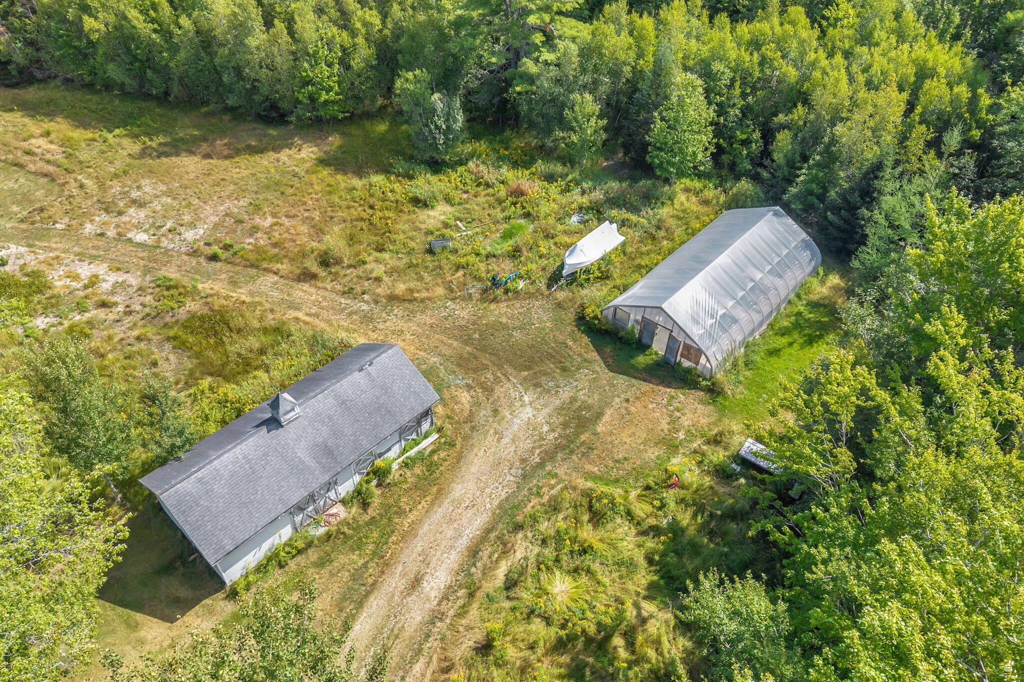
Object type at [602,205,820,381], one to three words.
greenhouse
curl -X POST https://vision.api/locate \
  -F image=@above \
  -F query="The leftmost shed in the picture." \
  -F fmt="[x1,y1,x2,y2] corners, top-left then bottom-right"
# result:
[139,343,442,587]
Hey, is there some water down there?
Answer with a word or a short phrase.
No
